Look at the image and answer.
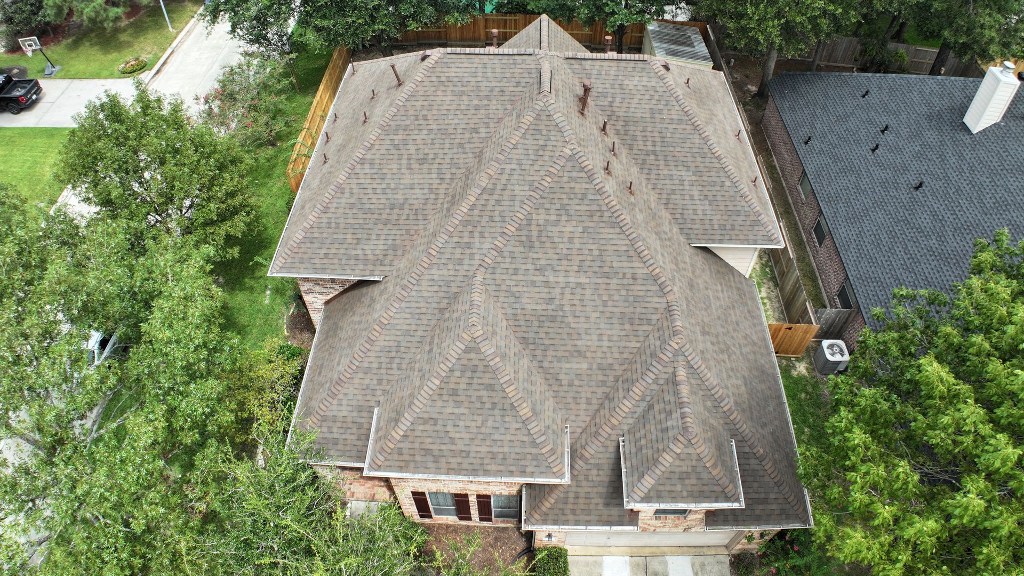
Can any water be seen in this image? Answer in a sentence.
No, there's no water in this view.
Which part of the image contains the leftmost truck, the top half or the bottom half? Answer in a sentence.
Seen from above, the leftmost truck lies in the top half of the view.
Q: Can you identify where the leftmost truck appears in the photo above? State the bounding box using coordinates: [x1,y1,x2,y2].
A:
[0,78,48,117]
